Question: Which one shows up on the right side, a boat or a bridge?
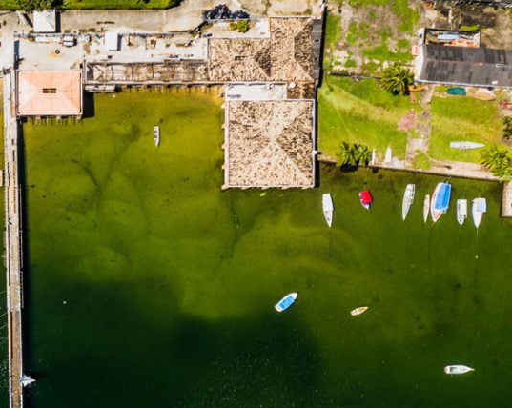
boat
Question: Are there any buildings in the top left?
Yes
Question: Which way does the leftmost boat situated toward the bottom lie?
at an angle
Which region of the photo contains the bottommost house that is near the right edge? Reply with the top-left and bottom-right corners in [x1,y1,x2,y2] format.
[412,45,512,91]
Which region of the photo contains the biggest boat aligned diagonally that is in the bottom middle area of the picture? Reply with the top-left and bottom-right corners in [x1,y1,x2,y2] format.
[274,292,298,313]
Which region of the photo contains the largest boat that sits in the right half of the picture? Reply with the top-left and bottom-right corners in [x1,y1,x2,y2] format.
[432,181,454,222]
